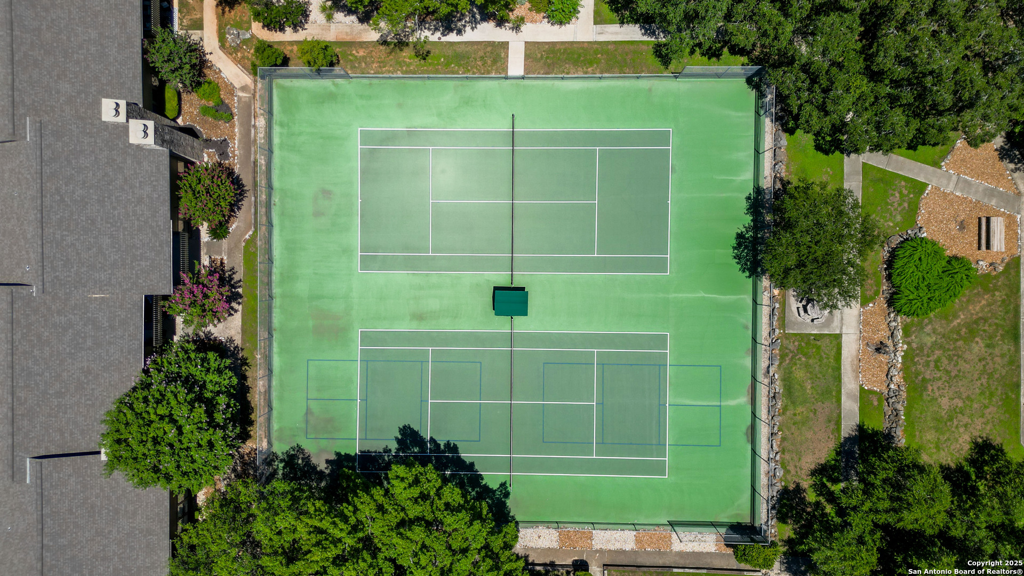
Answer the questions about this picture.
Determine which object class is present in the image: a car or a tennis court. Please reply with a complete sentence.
Looking from above, you can make out a tennis court.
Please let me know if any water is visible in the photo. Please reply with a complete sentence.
No, the picture contains no water.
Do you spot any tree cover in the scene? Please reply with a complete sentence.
Yes, tree cover can be seen from above here.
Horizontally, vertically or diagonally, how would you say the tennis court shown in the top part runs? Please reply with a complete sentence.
The tennis court shown in the top part is oriented horizontally.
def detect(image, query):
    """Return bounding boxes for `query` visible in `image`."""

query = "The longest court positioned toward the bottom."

[357,329,669,478]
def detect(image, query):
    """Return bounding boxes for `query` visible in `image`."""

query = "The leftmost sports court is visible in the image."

[306,360,481,442]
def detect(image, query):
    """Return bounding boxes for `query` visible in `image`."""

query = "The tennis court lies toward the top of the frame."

[358,128,672,275]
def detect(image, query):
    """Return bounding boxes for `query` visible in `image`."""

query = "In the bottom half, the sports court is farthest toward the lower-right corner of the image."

[543,363,722,446]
